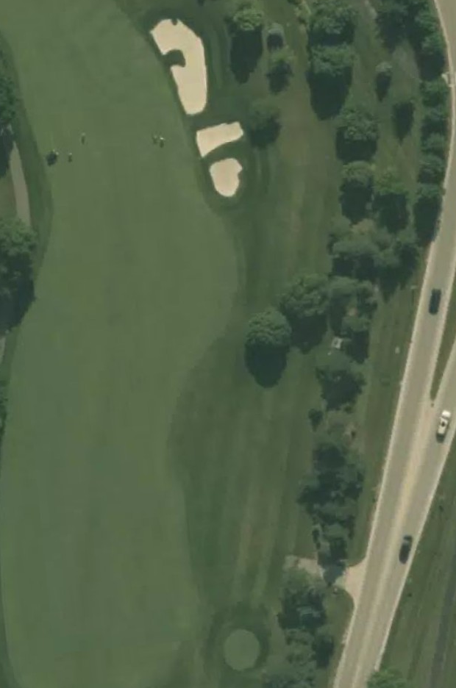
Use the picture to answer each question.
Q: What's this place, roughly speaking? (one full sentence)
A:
The picture captures a golf course.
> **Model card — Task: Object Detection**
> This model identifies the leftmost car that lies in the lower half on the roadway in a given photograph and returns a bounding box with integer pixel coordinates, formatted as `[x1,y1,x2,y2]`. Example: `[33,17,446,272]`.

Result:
[400,536,412,562]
